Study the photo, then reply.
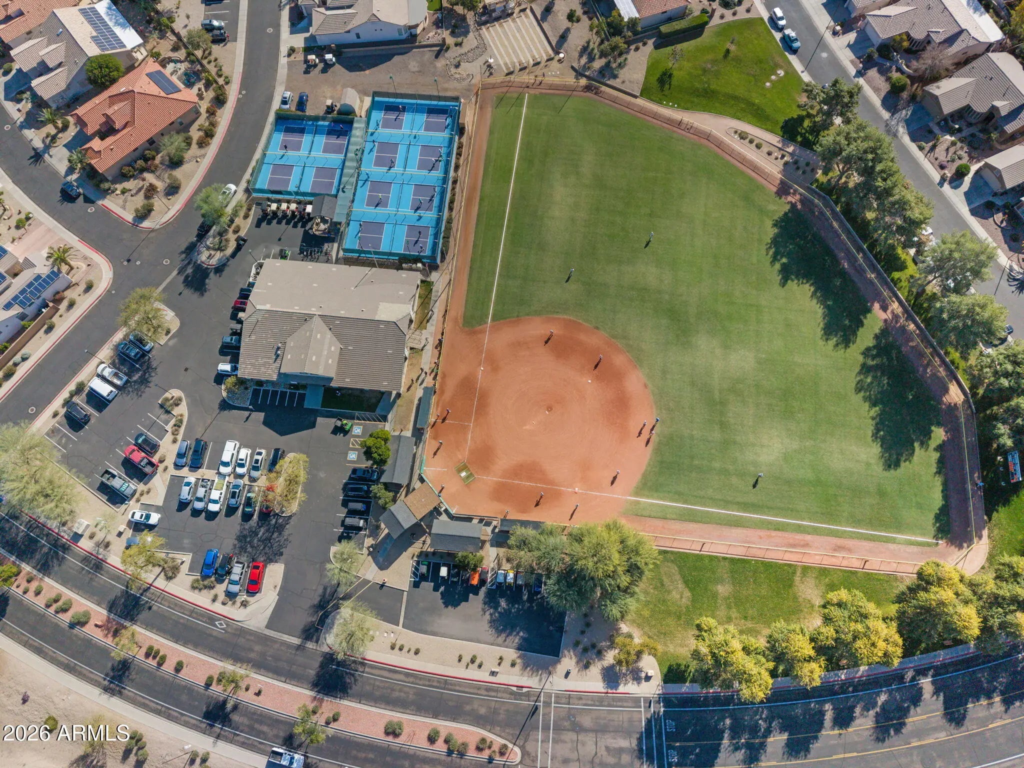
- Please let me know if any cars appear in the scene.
Yes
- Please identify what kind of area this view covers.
sports ground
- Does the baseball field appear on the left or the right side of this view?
right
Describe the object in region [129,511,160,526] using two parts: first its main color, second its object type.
white car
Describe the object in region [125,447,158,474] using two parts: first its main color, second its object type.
red truck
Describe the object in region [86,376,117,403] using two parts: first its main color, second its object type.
white vehicle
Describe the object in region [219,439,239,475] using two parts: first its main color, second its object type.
white vehicle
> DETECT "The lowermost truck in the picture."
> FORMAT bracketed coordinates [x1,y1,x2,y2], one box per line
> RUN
[264,746,306,768]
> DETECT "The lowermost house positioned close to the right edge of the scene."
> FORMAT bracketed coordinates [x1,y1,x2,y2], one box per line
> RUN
[976,144,1024,196]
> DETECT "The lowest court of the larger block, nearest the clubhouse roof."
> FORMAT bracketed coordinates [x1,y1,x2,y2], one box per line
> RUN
[357,219,431,254]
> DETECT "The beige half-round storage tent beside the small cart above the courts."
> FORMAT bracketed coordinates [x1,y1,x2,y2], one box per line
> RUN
[335,81,361,115]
